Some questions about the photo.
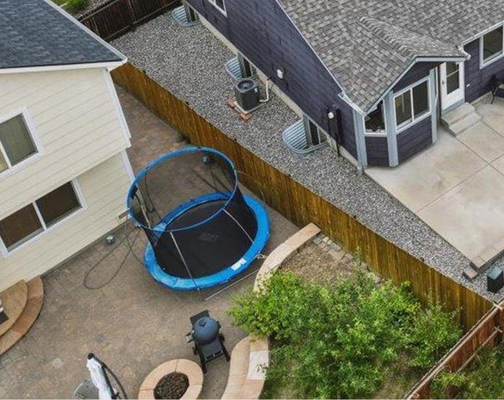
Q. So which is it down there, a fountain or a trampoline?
trampoline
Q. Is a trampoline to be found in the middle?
Yes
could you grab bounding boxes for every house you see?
[183,0,504,176]
[0,0,143,291]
